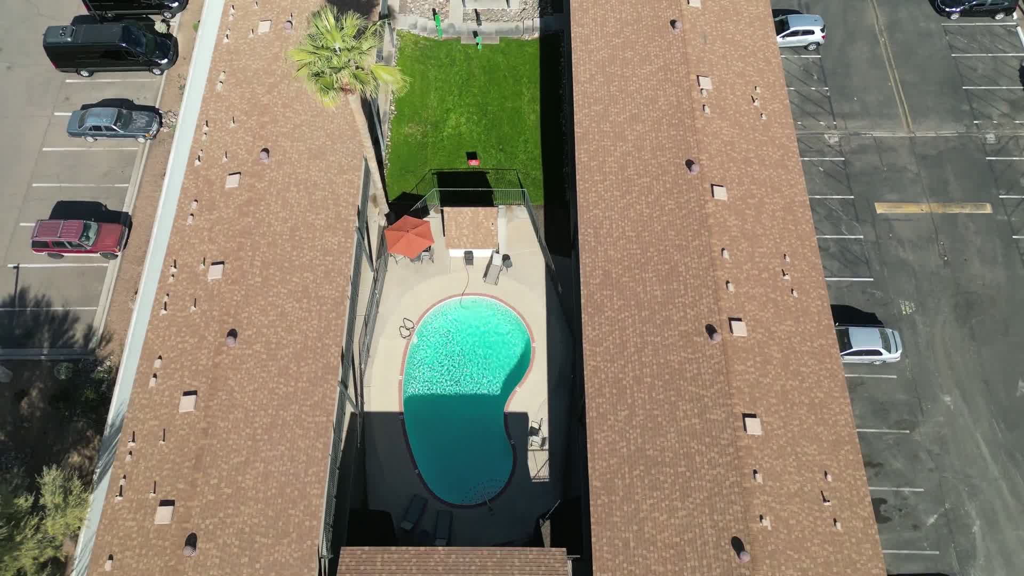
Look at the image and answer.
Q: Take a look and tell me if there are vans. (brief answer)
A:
Yes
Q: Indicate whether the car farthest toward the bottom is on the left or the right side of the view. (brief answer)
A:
right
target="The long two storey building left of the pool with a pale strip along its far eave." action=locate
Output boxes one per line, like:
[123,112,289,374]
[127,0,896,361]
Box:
[61,0,395,576]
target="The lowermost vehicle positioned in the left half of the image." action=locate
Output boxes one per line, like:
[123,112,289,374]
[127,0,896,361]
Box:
[26,216,128,259]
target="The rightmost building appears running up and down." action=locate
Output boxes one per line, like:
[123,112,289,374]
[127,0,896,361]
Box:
[563,0,886,576]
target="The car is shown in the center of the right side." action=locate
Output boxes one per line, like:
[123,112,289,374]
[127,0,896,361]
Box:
[835,321,904,365]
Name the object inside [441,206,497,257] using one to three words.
shed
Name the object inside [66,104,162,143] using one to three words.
car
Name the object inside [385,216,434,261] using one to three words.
umbrella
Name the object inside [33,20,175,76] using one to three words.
van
